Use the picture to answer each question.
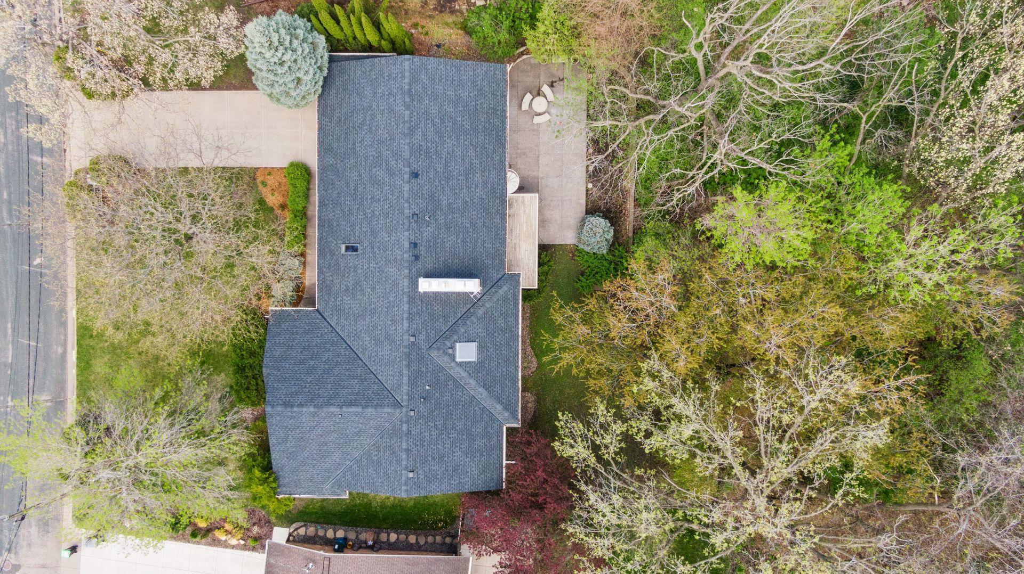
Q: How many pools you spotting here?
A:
0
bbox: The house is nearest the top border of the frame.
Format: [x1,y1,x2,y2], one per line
[264,51,523,500]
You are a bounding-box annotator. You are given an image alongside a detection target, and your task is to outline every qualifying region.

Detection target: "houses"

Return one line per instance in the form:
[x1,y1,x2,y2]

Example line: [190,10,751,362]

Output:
[264,51,523,500]
[260,537,474,574]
